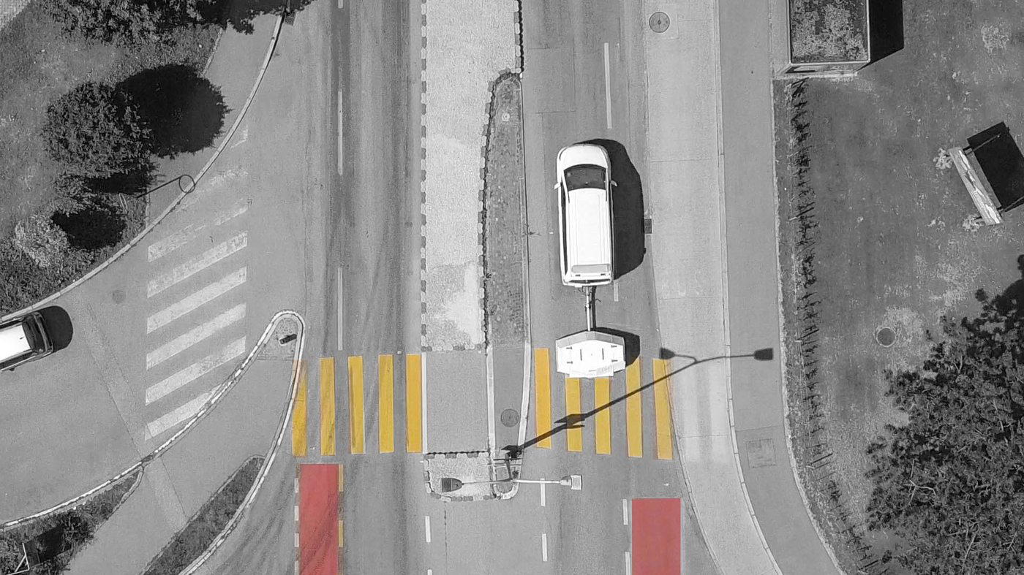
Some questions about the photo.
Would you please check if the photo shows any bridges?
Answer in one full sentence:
No, there isn't any bridge down there.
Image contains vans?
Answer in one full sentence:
Yes, there is a van in the image.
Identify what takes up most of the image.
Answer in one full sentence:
Most of the picture is covered by paved ground.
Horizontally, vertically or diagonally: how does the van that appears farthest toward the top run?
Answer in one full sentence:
In this picture, the van that appears farthest toward the top lies vertically.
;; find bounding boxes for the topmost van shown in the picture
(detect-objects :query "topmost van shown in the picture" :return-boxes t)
[551,143,619,290]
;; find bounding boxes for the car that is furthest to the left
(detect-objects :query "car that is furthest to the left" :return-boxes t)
[0,311,57,373]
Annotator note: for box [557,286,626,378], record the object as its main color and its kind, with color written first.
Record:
white trailer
